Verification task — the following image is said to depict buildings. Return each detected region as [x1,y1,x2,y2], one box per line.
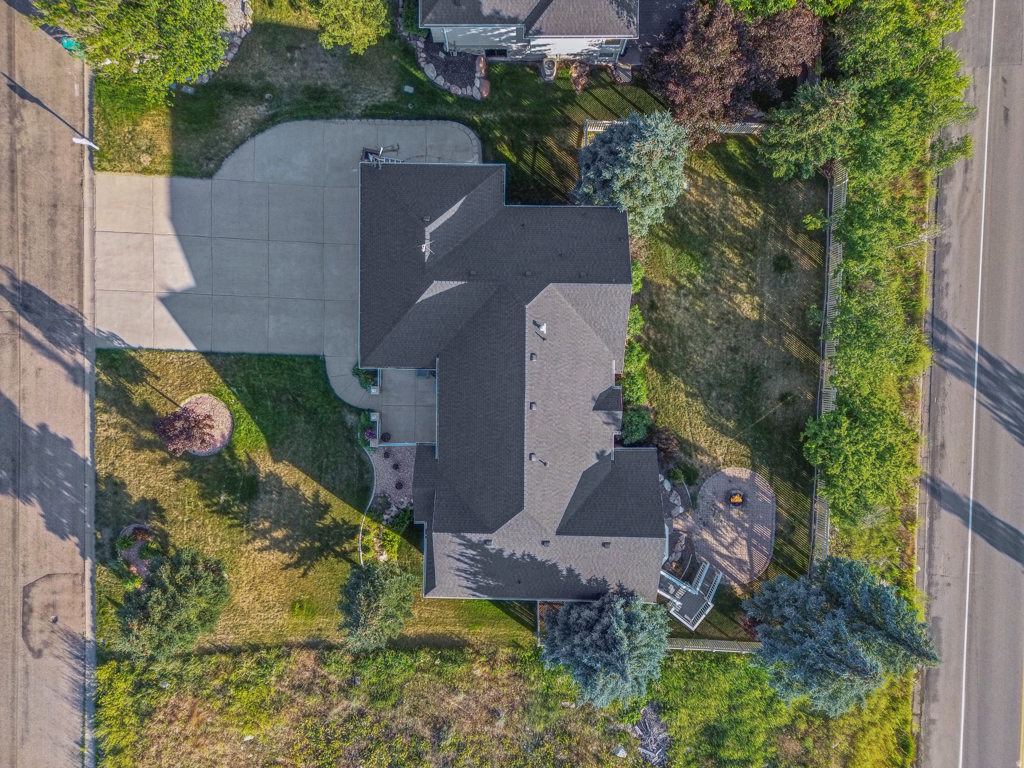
[418,0,691,71]
[357,161,667,605]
